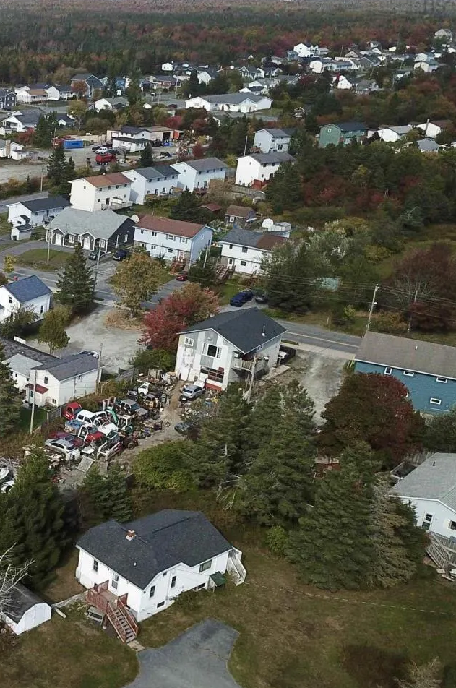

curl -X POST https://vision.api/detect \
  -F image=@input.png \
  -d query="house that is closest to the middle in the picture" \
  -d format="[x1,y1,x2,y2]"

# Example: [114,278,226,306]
[172,310,296,391]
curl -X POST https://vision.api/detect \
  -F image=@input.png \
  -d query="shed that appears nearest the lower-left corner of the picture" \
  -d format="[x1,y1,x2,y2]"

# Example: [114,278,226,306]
[0,586,56,642]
